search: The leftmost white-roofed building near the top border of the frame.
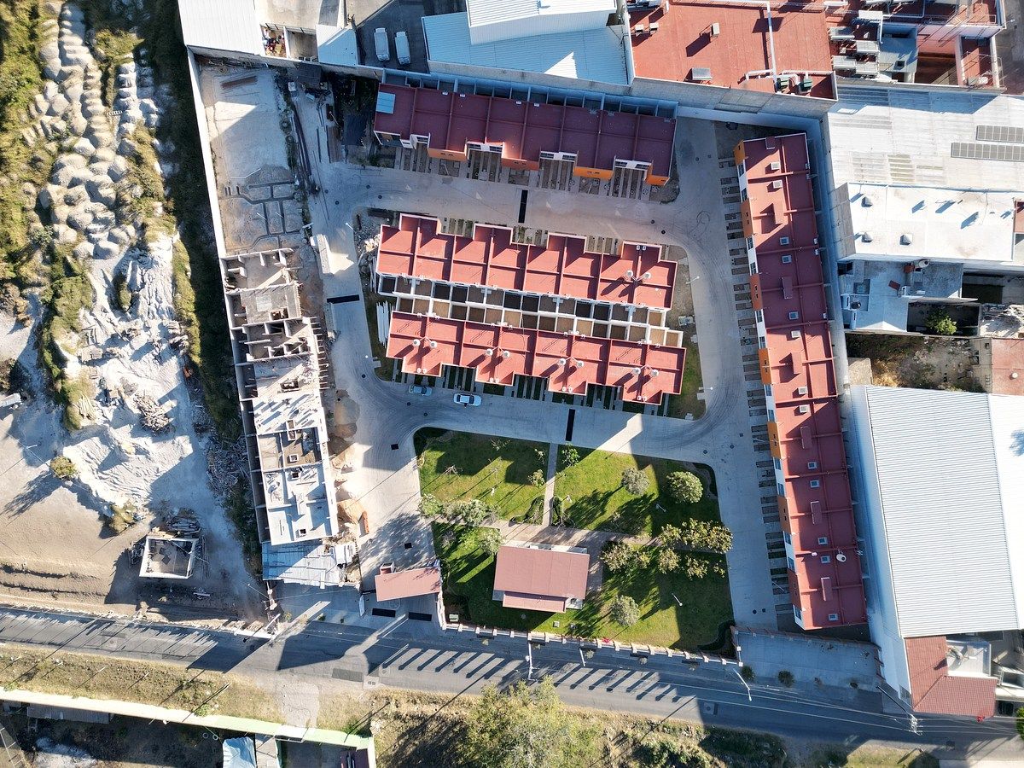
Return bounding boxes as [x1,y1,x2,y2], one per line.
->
[183,0,272,57]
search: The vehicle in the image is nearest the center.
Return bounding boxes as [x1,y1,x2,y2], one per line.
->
[454,393,482,406]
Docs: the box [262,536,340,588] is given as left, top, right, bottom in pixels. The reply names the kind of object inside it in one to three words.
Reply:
shed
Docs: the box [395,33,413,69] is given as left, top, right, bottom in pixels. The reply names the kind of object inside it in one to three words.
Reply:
vehicle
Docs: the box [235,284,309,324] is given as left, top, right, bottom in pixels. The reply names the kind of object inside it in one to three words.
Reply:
house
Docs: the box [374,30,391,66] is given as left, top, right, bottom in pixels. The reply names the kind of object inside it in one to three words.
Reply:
vehicle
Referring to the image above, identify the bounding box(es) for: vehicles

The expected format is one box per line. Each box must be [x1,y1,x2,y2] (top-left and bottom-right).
[454,393,482,406]
[998,698,1016,720]
[409,384,433,397]
[374,30,391,66]
[395,33,413,69]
